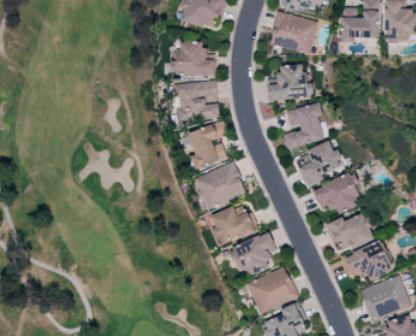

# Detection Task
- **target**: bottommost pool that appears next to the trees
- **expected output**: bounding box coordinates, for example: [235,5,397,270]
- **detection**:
[397,235,416,250]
